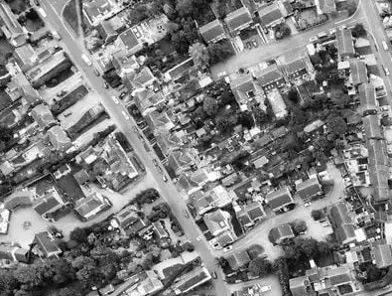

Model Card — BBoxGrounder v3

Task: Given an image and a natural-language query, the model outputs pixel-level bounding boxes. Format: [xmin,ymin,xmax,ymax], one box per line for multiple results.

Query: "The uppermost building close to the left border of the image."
[0,0,30,37]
